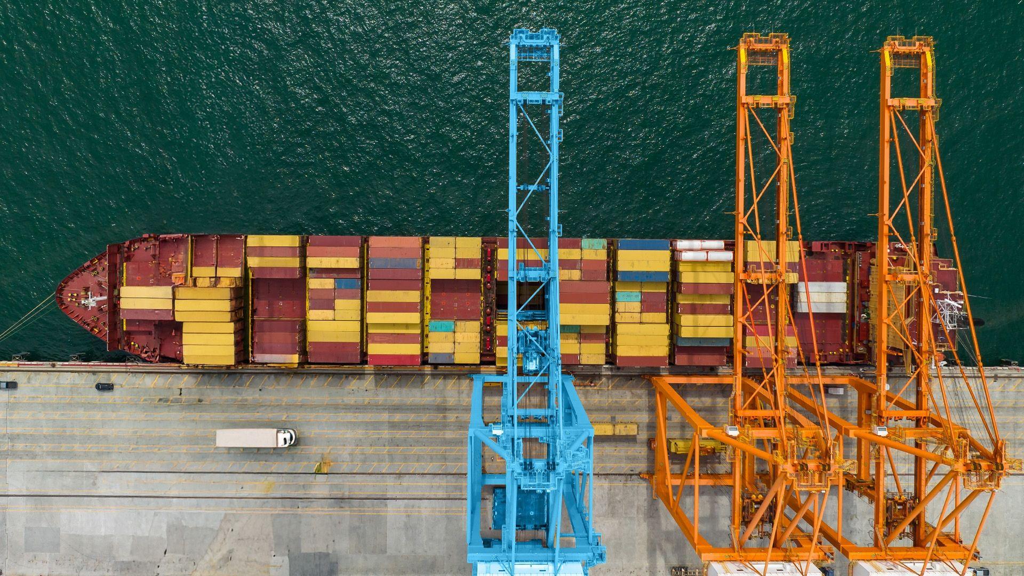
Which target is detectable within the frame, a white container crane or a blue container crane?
blue container crane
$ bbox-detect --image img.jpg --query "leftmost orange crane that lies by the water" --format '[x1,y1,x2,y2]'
[635,22,863,576]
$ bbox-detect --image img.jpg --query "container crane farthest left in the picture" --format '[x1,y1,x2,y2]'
[467,20,606,576]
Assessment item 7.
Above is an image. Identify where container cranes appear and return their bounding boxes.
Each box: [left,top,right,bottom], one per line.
[467,20,606,576]
[635,22,863,576]
[743,23,1024,576]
